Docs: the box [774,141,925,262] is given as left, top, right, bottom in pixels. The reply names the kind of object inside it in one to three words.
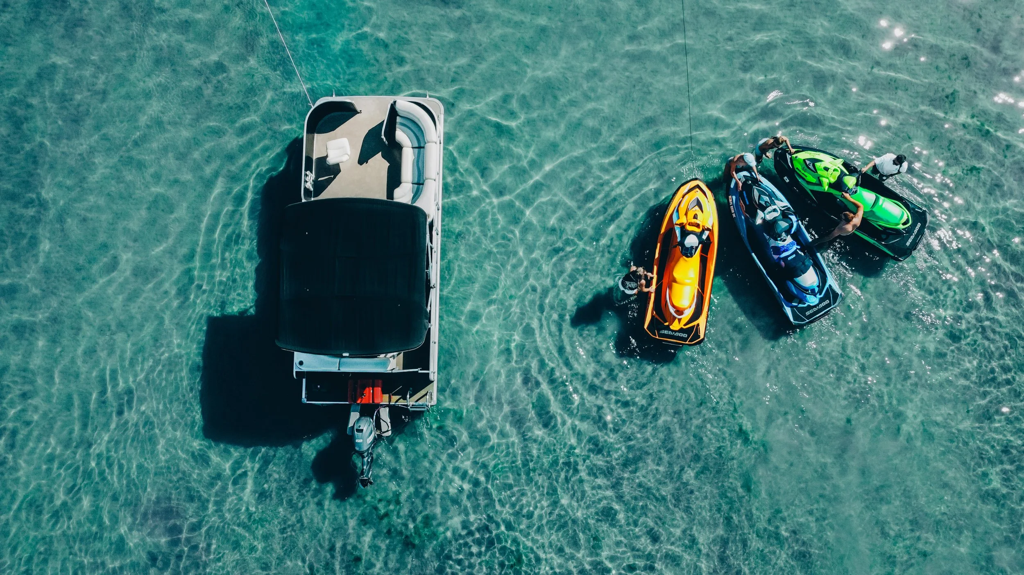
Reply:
boat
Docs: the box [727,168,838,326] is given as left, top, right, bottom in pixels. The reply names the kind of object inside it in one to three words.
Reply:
boat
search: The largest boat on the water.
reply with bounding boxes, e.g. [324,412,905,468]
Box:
[276,89,445,487]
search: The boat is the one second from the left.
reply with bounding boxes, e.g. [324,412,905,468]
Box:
[643,178,718,347]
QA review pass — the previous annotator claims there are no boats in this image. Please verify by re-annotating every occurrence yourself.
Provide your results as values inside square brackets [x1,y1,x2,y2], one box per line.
[774,141,925,262]
[643,178,718,347]
[276,89,445,487]
[727,168,838,326]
